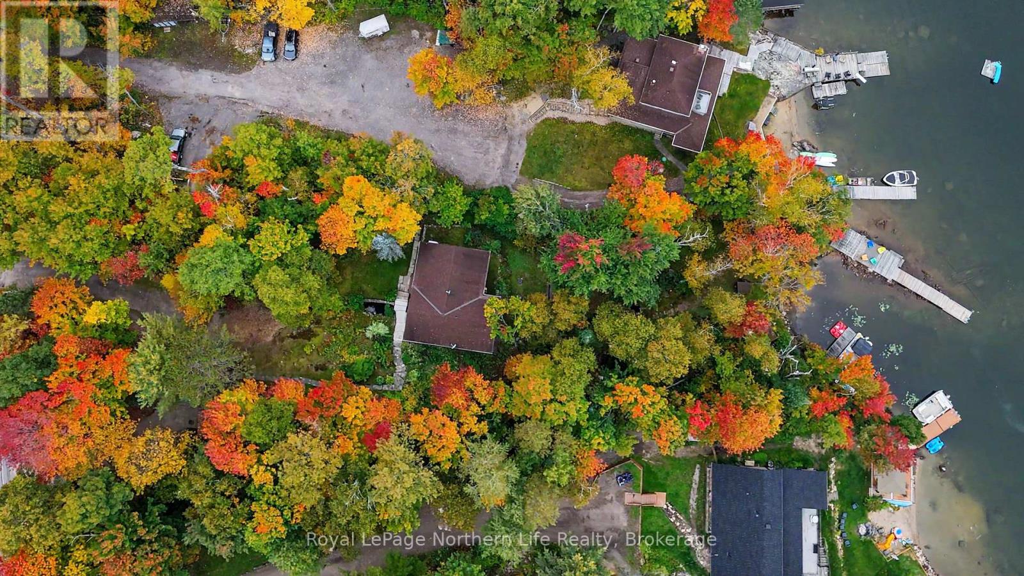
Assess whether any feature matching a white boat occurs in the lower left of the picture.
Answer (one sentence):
No, the scene shows no white boat in the lower left of the picture.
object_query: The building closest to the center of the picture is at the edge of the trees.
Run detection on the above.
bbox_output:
[403,241,502,354]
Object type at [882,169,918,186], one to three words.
boat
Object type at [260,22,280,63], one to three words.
vehicle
